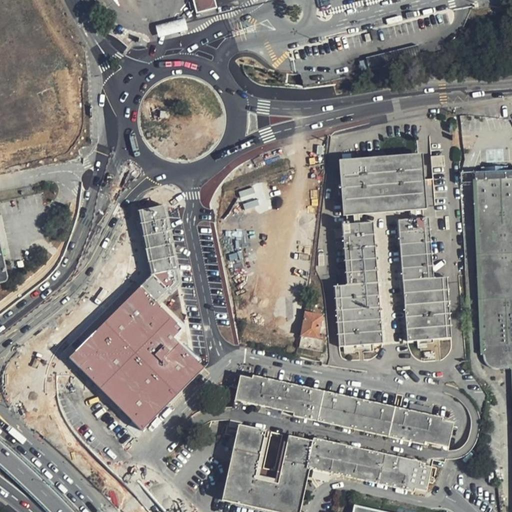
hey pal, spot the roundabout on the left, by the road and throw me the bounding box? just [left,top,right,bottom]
[116,52,248,184]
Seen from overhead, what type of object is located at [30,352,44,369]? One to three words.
vehicle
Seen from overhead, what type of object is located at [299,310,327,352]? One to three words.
house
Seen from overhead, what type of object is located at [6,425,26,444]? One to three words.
vehicle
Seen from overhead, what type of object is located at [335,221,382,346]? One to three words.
building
